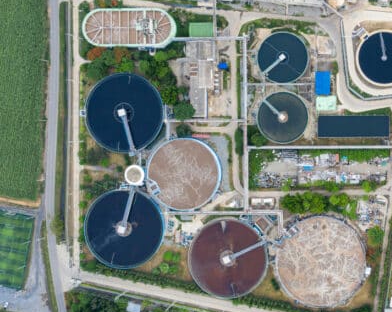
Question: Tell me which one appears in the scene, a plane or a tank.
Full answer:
I can see a tank in this picture.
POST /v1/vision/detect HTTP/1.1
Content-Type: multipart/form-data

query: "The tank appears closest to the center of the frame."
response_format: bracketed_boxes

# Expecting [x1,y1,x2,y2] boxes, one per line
[147,137,224,211]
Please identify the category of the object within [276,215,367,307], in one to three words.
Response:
storage tank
